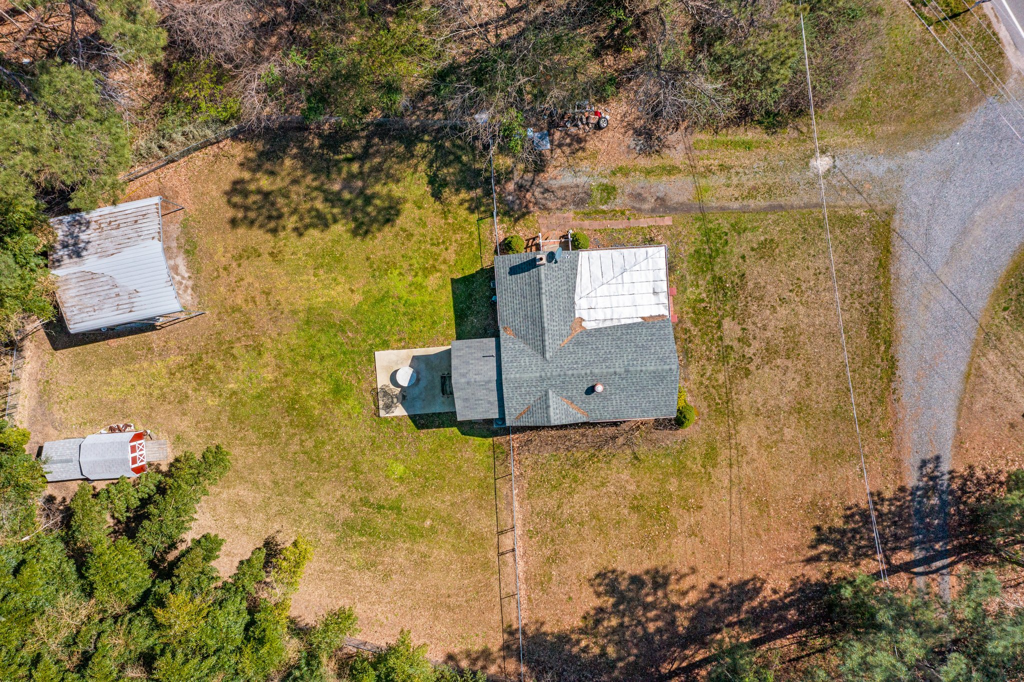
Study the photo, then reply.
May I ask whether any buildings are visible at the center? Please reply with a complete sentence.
Yes, I can see a building at the center.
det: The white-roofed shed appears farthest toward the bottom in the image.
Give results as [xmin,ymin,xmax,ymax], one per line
[36,435,149,489]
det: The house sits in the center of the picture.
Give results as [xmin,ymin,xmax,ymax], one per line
[452,243,678,429]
